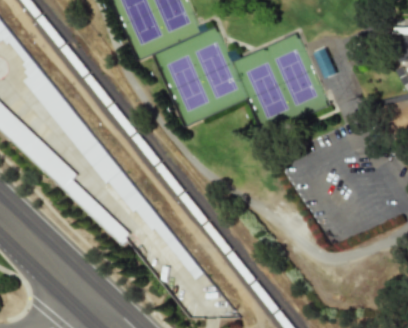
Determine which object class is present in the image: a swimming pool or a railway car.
railway car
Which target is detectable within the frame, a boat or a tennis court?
tennis court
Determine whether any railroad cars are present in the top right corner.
No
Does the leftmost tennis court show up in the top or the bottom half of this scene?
top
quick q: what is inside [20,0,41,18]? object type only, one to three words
rail car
